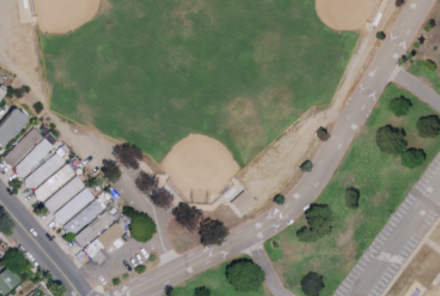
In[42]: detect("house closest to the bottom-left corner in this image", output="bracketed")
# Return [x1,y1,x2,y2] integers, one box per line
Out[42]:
[0,268,20,296]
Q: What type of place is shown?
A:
sports ground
